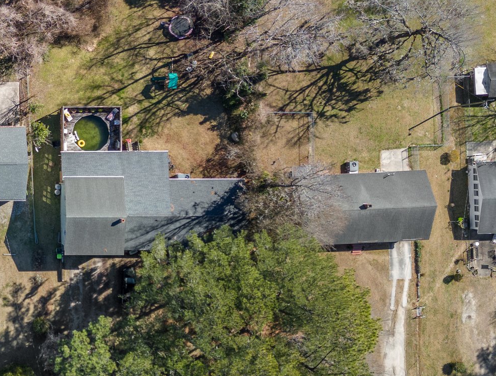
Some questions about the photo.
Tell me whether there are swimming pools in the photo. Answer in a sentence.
Yes, I can see a swimming pool in this picture.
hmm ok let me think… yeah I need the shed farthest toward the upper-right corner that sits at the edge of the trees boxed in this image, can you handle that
[465,64,496,97]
